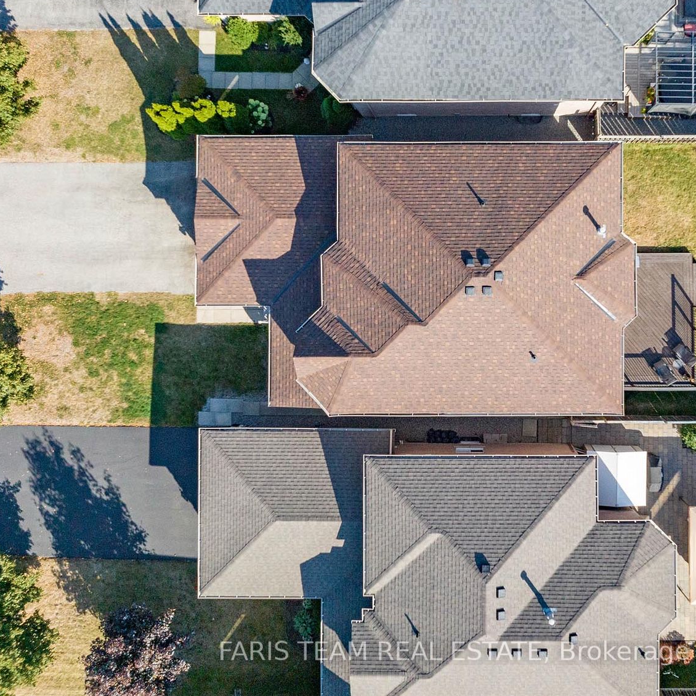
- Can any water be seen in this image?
No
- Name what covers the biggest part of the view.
buildings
